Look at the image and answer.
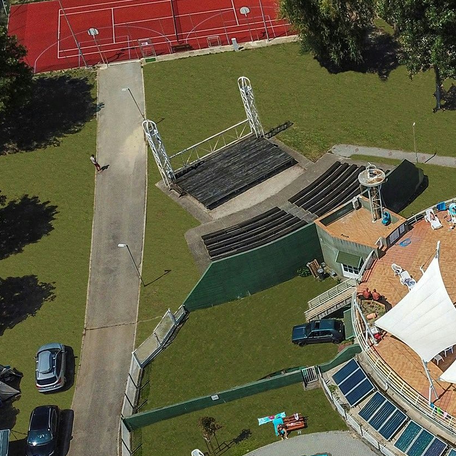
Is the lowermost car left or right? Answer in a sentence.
The lowermost car sits on the left side.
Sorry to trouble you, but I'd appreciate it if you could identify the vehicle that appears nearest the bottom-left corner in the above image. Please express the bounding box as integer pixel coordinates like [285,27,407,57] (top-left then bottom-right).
[26,405,66,456]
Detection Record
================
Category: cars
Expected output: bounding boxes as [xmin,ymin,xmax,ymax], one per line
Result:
[26,405,66,456]
[34,347,71,399]
[296,318,352,350]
